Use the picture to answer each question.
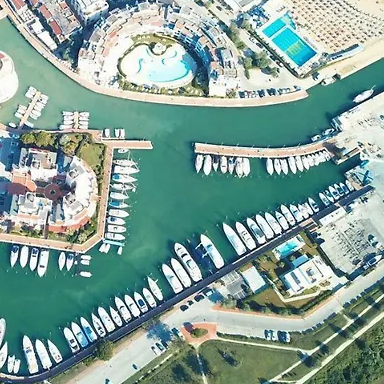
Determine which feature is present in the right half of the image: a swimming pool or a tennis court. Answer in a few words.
swimming pool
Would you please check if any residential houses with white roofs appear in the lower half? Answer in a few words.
Yes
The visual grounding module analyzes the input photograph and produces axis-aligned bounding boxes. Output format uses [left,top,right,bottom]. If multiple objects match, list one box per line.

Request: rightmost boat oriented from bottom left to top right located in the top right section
[351,79,377,103]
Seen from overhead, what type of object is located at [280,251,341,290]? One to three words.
house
